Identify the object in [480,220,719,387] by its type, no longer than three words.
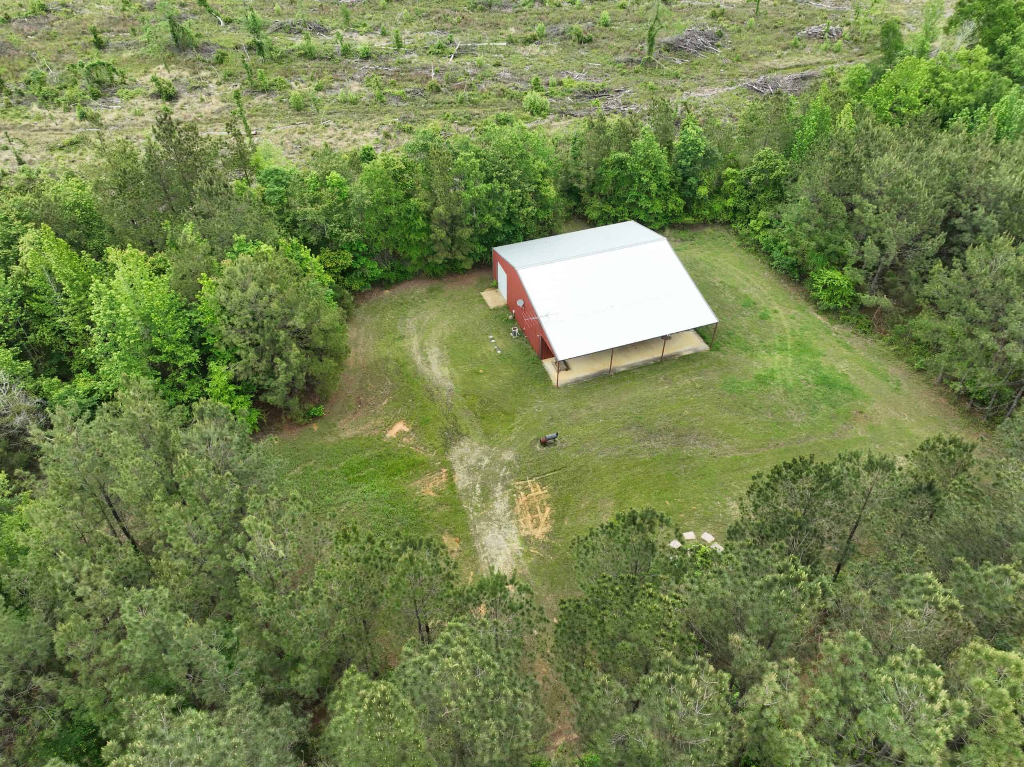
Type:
barn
